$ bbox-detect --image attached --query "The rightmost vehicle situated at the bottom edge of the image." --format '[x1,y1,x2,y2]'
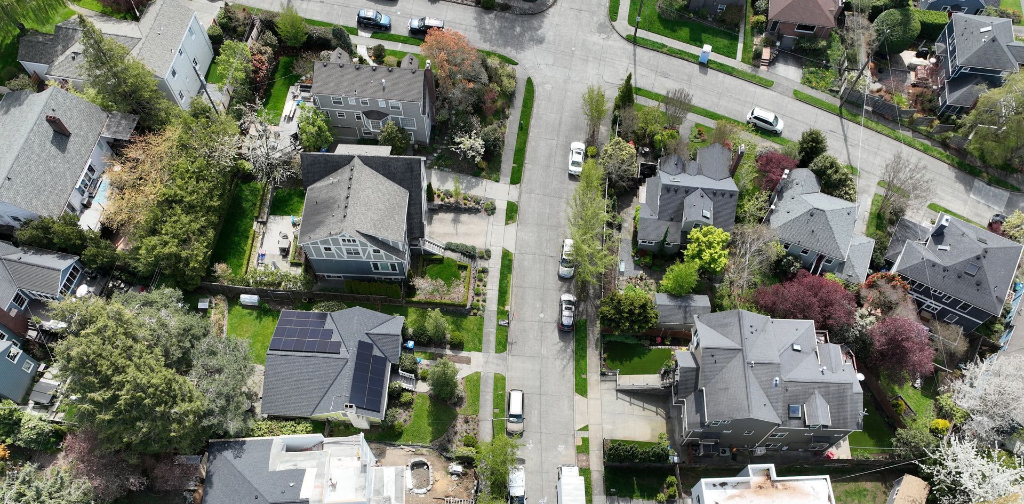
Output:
[556,464,585,504]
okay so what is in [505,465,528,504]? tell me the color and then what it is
white vehicle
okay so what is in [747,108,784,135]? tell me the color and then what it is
white vehicle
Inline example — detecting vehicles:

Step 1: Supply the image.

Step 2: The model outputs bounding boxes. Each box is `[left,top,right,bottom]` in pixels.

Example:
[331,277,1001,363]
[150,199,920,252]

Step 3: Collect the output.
[504,389,526,436]
[747,108,784,135]
[557,238,577,280]
[556,464,585,504]
[985,209,1008,233]
[505,465,528,504]
[558,293,578,332]
[409,14,443,34]
[356,10,392,31]
[568,142,586,177]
